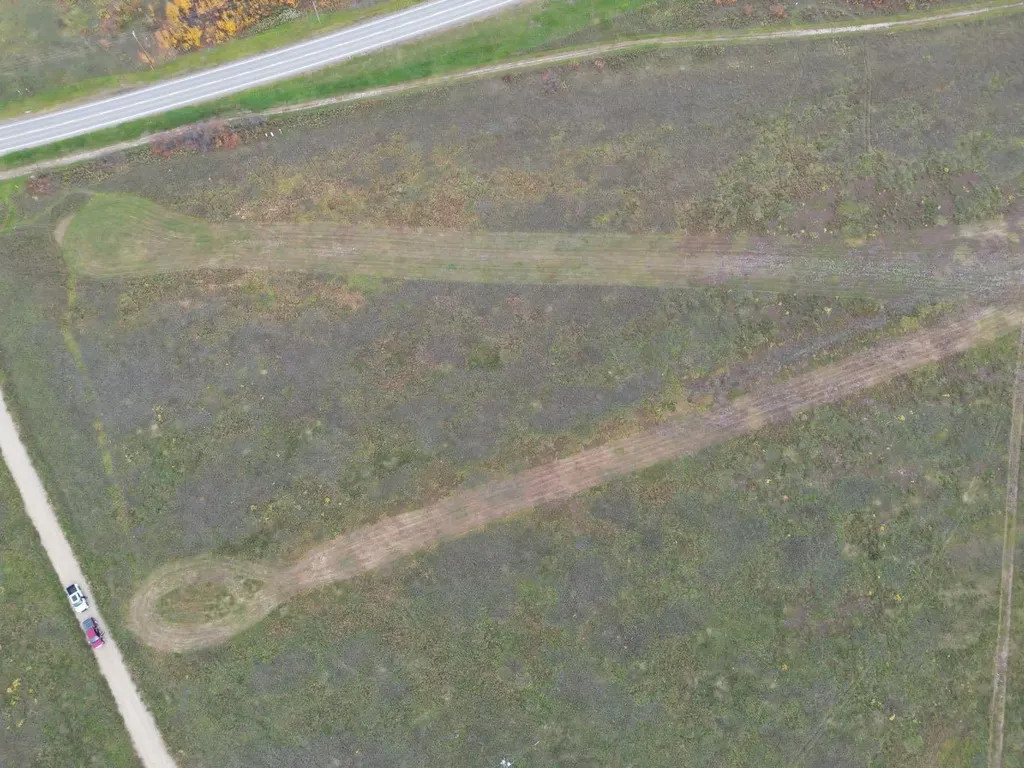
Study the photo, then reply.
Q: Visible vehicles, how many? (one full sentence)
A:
The number of vehicles here is 2.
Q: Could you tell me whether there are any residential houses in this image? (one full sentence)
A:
No, there is no residential house in the image.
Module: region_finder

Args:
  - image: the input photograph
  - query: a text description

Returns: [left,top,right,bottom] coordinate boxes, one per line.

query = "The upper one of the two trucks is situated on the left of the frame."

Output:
[66,583,90,614]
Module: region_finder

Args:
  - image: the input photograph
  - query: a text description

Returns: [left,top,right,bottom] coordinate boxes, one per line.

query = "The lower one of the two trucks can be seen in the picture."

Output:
[81,616,107,649]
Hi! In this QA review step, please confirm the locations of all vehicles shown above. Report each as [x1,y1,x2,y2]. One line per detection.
[81,616,107,649]
[66,583,90,614]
